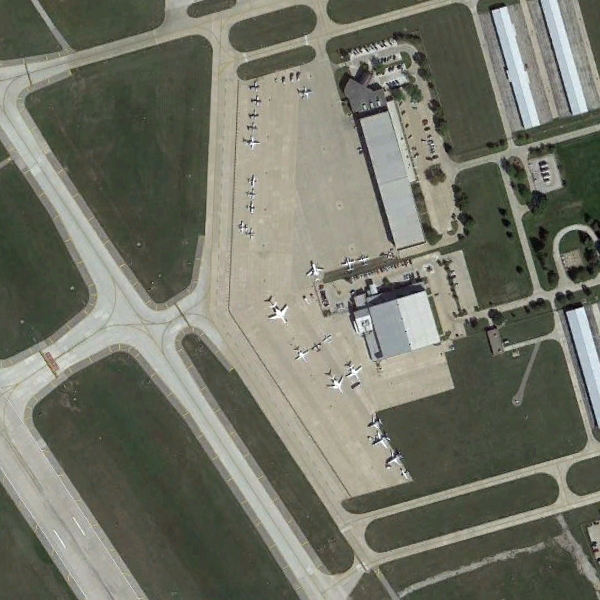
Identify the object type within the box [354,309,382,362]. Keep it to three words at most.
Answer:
building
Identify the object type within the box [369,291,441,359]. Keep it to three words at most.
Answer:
hangar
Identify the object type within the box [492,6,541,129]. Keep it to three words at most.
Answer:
hangar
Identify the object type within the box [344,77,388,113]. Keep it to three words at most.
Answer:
building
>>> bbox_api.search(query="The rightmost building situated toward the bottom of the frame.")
[566,306,600,431]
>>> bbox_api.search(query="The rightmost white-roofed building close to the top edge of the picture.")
[541,0,589,115]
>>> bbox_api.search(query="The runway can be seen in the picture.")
[0,386,141,600]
